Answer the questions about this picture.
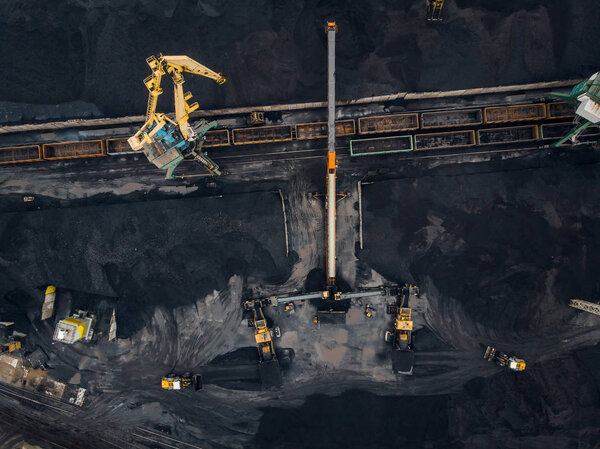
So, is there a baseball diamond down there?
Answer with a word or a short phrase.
No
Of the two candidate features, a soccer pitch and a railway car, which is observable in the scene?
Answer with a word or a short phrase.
railway car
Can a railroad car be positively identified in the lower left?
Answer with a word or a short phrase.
No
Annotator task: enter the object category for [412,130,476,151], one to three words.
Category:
rail car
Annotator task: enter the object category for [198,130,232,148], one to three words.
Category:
rail car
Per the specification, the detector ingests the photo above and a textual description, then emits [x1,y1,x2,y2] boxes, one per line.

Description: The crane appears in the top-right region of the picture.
[545,71,600,146]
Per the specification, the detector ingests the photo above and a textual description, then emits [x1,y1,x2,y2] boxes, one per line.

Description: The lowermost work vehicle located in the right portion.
[485,348,529,375]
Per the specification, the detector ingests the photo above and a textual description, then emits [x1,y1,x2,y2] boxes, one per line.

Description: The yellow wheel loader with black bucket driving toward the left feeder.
[161,375,204,393]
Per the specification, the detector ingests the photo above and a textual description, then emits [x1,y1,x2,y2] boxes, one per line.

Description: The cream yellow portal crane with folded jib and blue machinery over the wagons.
[127,52,226,179]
